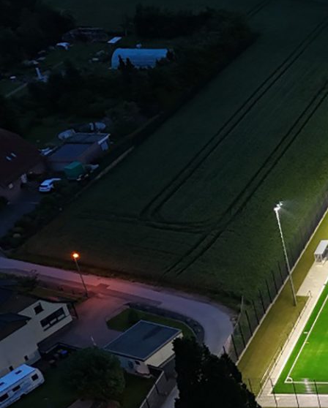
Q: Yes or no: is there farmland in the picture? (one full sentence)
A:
Yes, there is farmland in the image.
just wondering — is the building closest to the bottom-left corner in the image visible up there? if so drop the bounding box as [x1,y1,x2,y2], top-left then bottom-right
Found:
[0,286,72,366]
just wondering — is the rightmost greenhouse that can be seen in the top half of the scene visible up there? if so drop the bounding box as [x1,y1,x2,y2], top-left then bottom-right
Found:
[108,50,160,68]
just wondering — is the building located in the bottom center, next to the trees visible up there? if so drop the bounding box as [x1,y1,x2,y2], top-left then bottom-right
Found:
[105,318,186,377]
